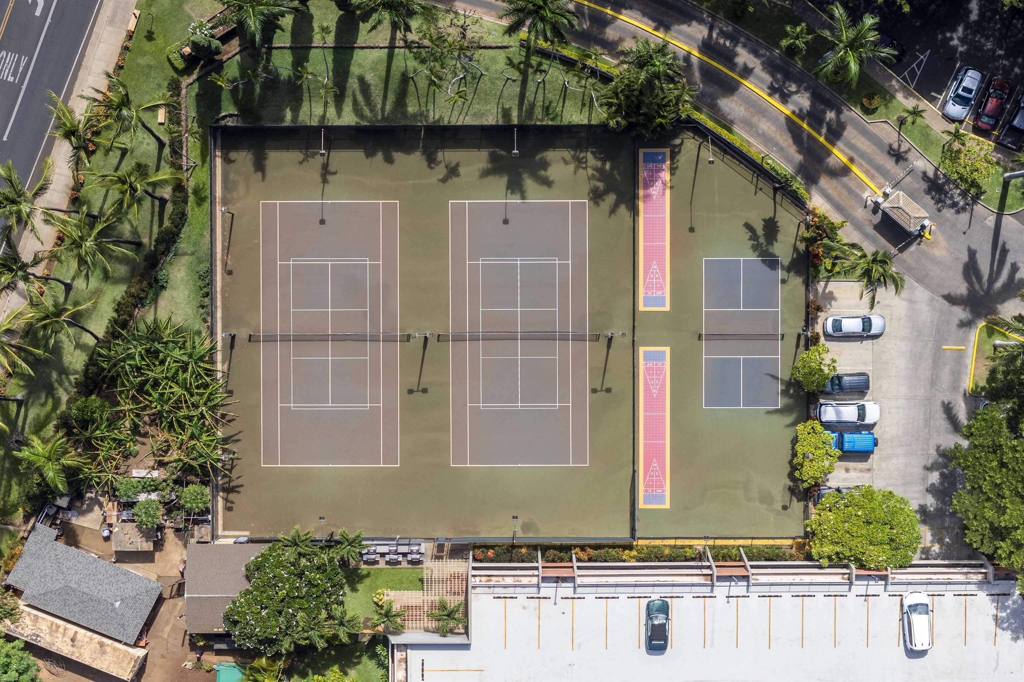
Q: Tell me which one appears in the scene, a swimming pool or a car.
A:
car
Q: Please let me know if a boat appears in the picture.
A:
No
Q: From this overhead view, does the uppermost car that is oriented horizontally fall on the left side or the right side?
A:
right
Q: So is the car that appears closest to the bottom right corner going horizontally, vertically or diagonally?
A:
vertically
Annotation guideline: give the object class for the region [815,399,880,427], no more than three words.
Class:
car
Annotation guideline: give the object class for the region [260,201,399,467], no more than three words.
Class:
tennis court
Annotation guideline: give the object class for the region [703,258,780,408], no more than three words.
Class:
sports court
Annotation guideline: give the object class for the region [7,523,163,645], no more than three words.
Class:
house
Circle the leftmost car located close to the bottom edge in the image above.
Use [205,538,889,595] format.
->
[644,599,672,651]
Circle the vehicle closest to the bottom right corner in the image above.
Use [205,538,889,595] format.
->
[903,592,933,652]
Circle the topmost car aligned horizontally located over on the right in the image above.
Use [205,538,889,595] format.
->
[823,312,885,339]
